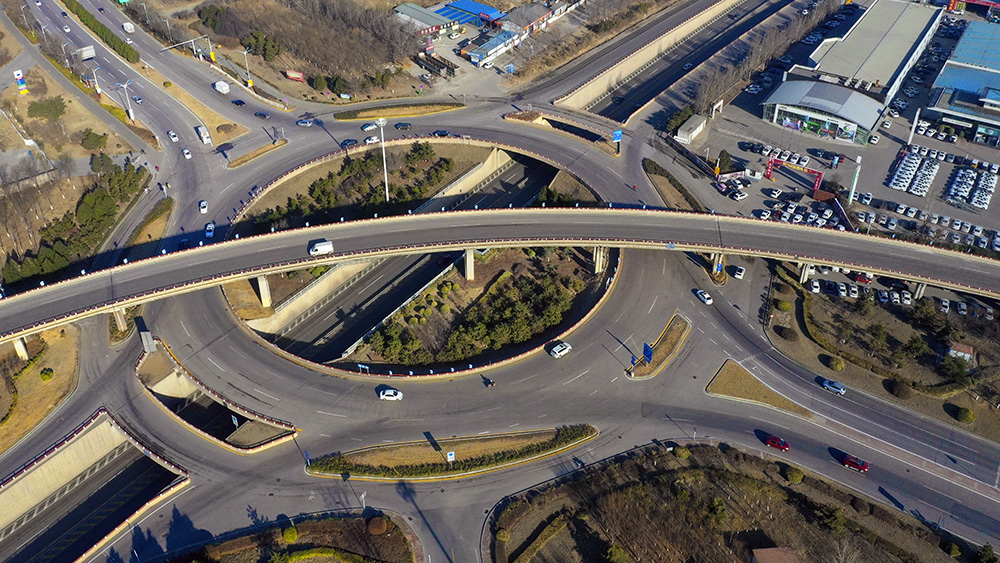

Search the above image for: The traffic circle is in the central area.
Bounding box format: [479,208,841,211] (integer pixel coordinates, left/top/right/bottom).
[150,112,686,435]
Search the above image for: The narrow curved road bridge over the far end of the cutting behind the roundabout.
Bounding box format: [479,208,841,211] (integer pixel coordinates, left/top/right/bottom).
[535,101,632,139]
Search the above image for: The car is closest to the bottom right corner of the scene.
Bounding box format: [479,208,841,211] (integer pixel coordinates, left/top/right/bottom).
[842,454,870,473]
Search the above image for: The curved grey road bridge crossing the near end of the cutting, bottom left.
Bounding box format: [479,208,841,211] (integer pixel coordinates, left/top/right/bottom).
[105,378,230,481]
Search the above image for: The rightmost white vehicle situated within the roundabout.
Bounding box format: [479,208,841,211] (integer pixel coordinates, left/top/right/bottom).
[550,343,572,358]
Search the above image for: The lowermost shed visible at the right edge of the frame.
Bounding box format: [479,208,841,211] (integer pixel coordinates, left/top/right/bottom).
[946,342,973,364]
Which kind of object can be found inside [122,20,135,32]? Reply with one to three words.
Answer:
vehicle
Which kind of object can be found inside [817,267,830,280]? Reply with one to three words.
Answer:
vehicle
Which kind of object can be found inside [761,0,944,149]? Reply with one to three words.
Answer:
building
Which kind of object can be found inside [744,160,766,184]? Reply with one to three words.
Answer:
shed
